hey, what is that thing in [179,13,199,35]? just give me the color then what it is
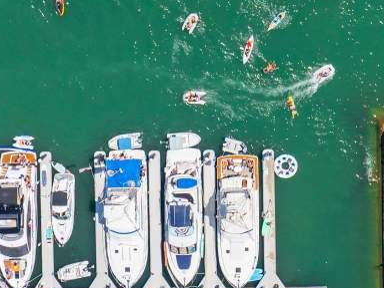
white boat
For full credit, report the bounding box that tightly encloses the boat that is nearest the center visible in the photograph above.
[165,131,200,146]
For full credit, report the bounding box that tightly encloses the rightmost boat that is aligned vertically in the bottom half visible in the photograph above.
[216,150,263,288]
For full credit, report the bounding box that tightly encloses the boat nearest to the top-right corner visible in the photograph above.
[311,65,333,86]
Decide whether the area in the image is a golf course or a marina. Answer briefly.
marina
